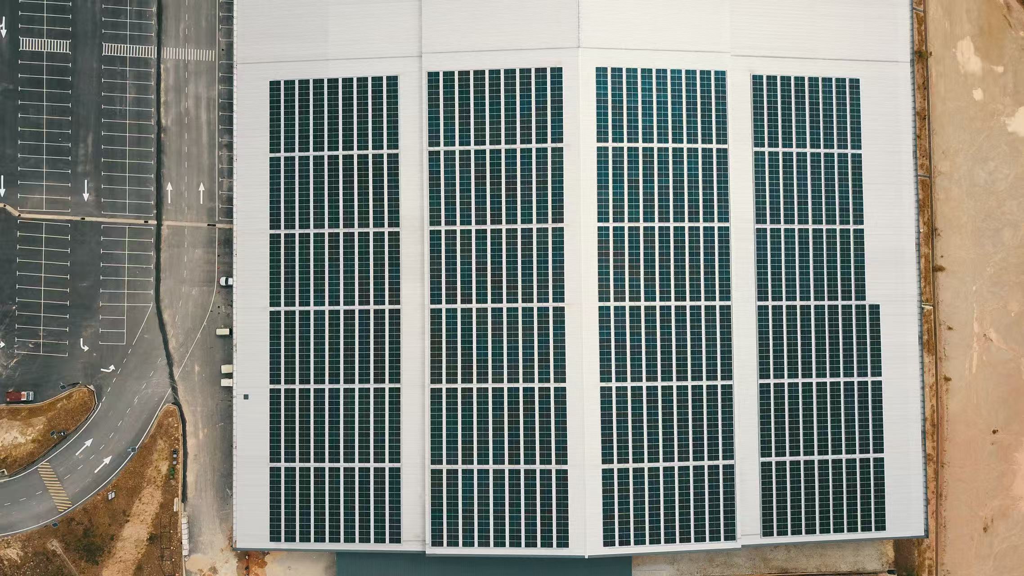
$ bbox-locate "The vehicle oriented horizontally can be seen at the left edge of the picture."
[3,391,36,403]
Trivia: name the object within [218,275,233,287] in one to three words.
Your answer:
vehicle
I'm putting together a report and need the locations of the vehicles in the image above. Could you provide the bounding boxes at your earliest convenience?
[3,391,36,403]
[216,327,233,337]
[222,365,233,375]
[218,275,233,287]
[222,379,233,388]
